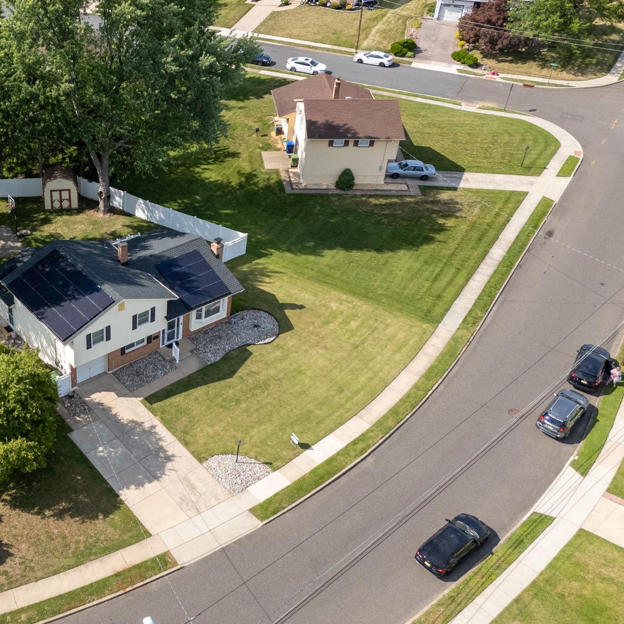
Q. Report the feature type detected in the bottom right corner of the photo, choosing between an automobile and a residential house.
automobile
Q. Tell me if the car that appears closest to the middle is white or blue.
blue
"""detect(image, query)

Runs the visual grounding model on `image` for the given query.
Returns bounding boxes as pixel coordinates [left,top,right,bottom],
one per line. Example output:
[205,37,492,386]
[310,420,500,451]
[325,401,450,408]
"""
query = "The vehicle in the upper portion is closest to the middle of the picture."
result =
[386,160,437,180]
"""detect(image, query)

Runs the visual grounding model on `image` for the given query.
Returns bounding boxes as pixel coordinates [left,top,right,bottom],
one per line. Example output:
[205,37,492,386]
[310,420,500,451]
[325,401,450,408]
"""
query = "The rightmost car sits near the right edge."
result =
[573,350,624,394]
